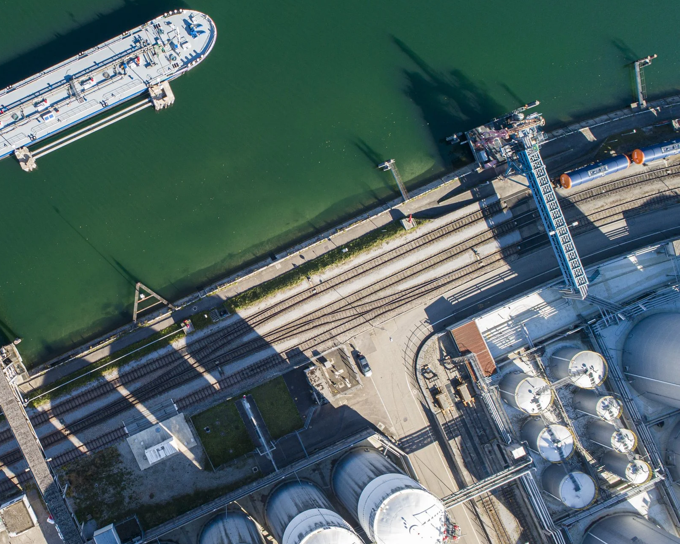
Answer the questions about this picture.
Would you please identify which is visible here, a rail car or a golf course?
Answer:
rail car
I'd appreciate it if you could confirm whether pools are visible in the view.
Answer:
No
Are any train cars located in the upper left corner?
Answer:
No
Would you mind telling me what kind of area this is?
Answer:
industrial area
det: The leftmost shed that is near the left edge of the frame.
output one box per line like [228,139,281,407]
[0,495,37,538]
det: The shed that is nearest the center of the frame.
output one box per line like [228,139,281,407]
[303,363,335,407]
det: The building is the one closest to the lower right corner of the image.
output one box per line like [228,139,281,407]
[499,440,540,469]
